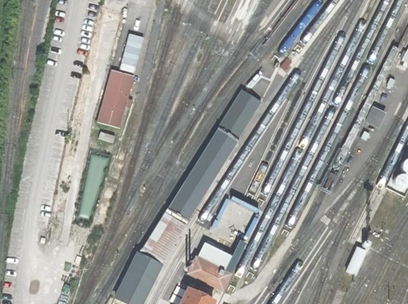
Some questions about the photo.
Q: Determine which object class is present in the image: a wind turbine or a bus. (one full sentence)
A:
There is a bus in the scene.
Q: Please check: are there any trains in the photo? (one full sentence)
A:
Yes, looking at the shot, I can spot a train.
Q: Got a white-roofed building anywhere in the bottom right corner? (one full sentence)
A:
Yes, I can see a white-roofed building in the bottom right corner.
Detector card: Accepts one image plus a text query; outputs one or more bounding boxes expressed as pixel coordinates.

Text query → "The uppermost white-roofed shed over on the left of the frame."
[119,32,142,73]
